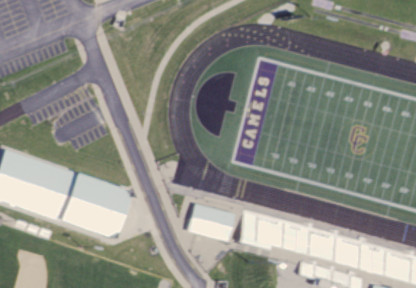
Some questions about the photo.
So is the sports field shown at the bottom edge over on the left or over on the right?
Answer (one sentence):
The sports field shown at the bottom edge appears in the left half of the scene.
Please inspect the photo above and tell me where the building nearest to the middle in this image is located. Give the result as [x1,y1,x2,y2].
[184,204,236,242]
